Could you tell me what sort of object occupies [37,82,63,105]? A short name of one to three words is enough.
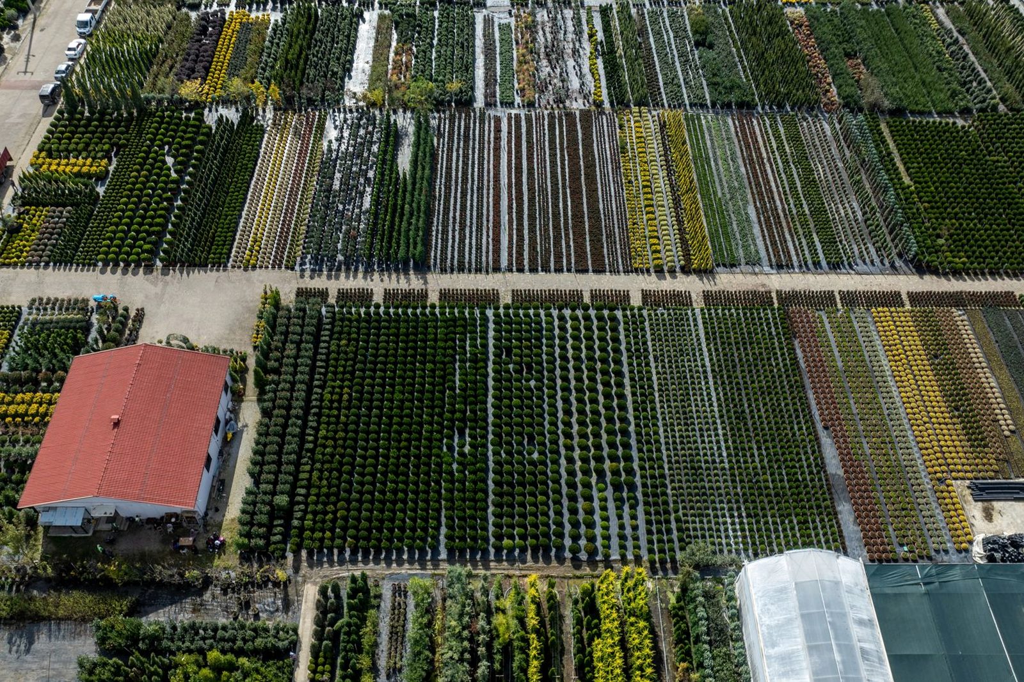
car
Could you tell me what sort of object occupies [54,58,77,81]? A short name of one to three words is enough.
car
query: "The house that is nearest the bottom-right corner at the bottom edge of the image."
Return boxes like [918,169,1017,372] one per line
[863,563,1024,682]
